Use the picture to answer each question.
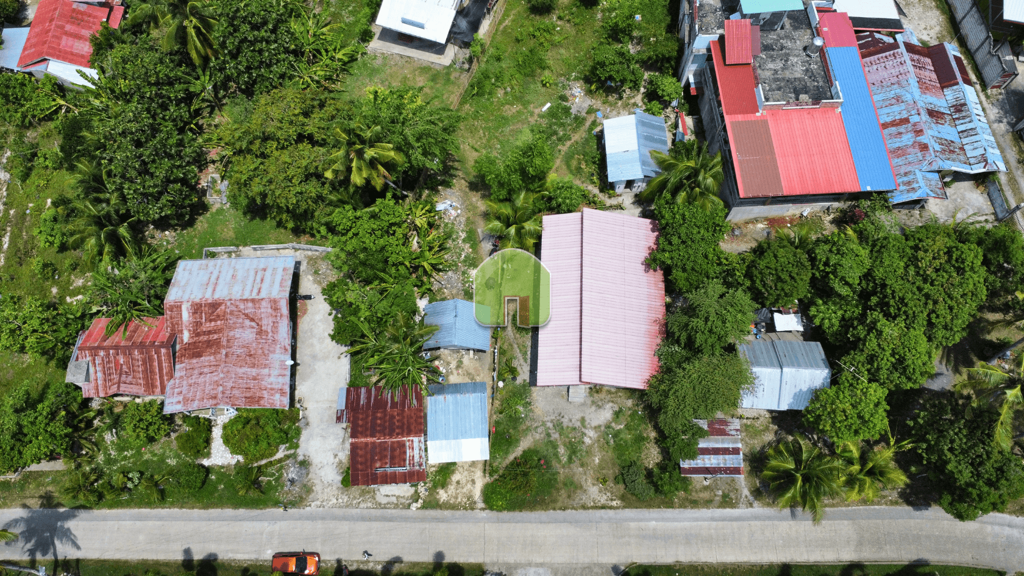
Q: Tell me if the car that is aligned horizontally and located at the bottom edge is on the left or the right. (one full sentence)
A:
It is on the left.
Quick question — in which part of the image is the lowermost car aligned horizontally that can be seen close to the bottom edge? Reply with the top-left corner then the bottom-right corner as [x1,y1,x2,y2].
[270,554,319,576]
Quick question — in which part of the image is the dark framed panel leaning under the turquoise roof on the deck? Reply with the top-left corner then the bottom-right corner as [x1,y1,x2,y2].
[756,13,784,30]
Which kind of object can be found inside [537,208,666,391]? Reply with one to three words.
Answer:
house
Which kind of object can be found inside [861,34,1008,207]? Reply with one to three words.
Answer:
house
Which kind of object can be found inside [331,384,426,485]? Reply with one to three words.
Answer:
shed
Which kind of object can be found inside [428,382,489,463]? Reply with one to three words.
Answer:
shed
